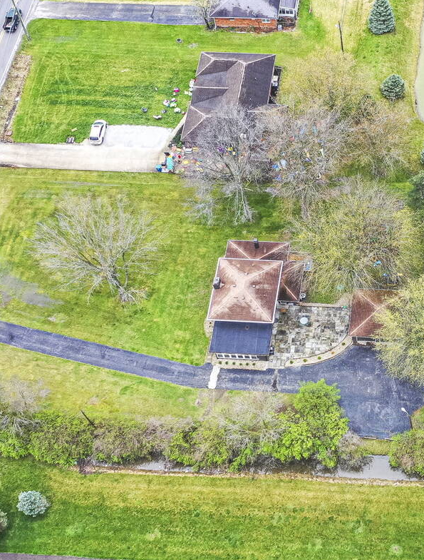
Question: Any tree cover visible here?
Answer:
Yes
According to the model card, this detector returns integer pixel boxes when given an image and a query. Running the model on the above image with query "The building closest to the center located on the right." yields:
[206,231,312,367]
